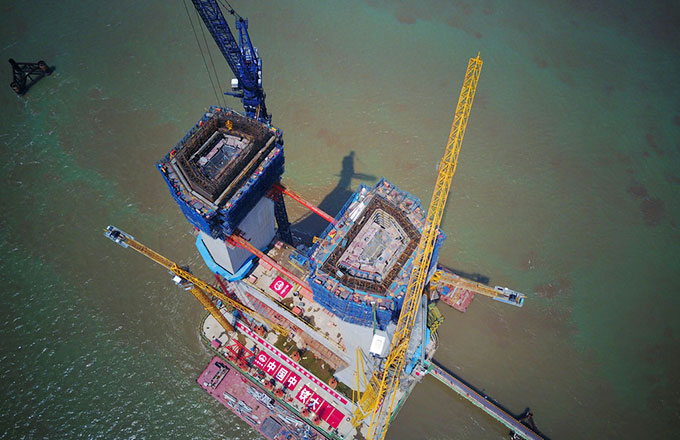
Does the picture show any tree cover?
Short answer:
No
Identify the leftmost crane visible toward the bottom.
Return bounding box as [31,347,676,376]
[96,223,290,338]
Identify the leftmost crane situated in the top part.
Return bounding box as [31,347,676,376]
[184,0,292,246]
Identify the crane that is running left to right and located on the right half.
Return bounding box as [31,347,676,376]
[410,269,531,307]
